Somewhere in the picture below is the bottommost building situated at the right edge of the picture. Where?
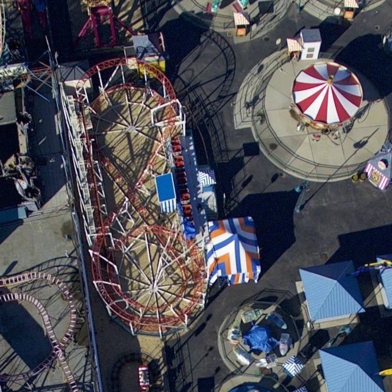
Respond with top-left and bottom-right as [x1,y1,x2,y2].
[312,340,385,392]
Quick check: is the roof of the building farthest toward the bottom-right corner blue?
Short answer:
Yes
